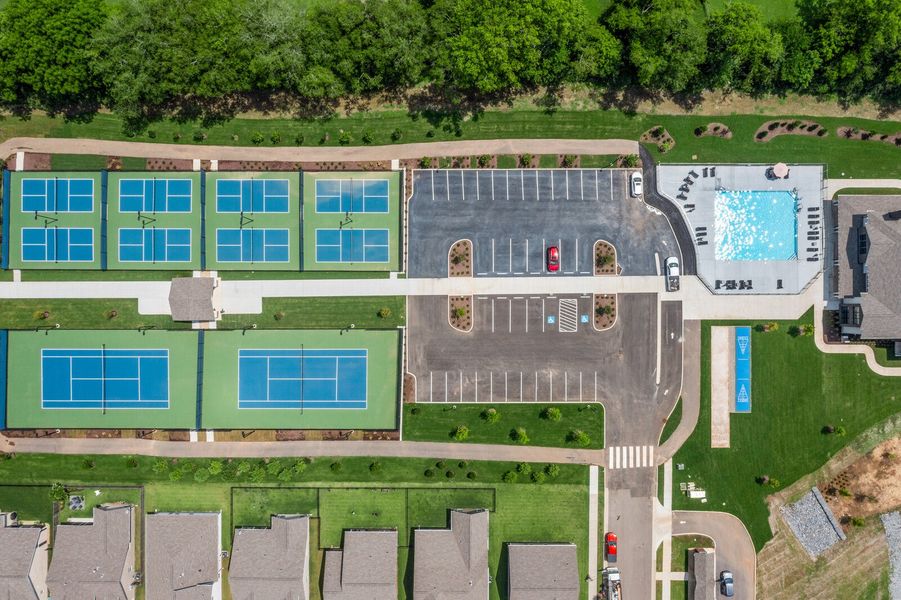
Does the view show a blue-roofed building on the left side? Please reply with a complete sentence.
No, looking on the left side, there is no blue-roofed building.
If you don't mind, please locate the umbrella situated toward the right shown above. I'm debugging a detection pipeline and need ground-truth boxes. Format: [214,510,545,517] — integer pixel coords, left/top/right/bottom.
[773,163,788,177]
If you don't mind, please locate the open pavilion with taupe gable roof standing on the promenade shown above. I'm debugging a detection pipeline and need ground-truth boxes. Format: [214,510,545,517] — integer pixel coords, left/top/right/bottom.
[169,277,216,321]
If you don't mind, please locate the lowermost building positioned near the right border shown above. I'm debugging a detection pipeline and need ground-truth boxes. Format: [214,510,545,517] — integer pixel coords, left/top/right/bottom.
[830,194,901,358]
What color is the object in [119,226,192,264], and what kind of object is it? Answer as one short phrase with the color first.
blue sports court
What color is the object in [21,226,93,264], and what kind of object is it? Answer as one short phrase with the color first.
blue sports court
